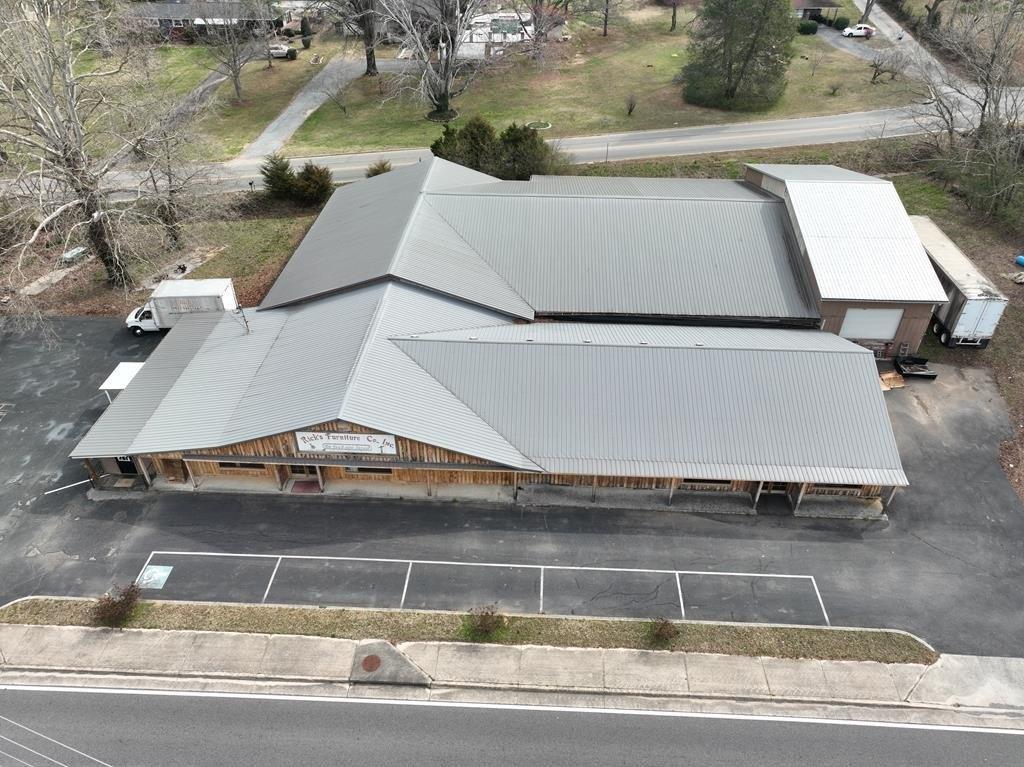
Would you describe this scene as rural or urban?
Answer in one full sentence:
From above, the setting appears urban.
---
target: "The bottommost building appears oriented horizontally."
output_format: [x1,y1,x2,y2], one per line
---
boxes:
[72,288,913,522]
